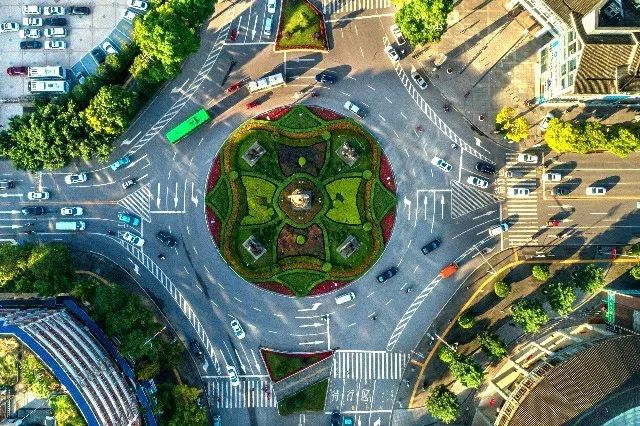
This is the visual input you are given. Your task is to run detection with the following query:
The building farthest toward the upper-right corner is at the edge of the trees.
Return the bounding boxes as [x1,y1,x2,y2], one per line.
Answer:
[497,0,640,109]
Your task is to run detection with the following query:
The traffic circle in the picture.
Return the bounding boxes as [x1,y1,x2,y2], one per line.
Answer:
[203,102,399,298]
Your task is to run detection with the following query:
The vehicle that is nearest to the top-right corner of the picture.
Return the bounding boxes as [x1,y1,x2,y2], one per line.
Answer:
[539,111,555,134]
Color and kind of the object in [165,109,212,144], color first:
green bus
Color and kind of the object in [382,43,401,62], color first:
white car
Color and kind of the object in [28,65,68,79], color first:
white vehicle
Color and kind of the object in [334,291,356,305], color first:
white vehicle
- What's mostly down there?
paved ground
